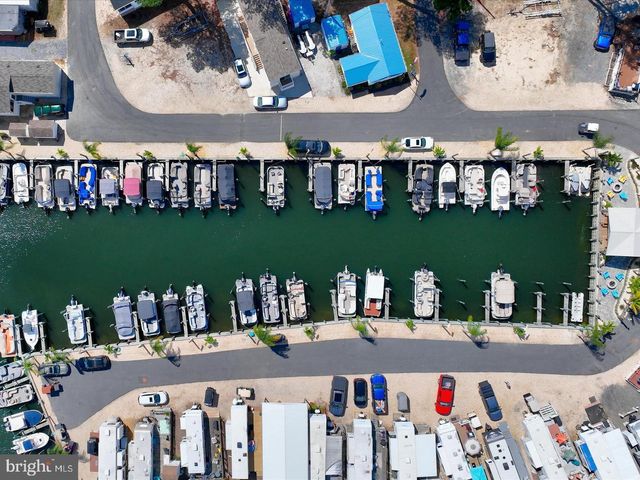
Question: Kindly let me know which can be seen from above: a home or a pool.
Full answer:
I can see a home in this picture.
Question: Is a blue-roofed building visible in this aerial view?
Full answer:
Yes, a blue-roofed building can be made out from above.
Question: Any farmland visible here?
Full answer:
No, no farmland is visible.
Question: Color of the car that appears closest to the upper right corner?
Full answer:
In this view, the car that appears closest to the upper right corner is blue.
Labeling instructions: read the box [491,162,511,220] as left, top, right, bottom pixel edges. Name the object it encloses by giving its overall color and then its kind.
white boat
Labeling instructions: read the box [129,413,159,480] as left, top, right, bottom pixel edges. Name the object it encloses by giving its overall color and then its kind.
white vehicle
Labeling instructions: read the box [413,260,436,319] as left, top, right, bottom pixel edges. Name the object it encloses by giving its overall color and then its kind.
white boat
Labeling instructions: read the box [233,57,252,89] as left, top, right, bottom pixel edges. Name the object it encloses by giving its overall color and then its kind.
white car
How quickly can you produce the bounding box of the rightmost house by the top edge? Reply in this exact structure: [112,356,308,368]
[339,3,407,90]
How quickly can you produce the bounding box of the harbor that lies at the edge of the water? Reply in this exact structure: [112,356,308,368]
[0,157,601,480]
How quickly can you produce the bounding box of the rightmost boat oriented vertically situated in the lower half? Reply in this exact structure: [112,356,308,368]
[489,262,515,324]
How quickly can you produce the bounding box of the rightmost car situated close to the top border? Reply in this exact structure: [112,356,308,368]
[592,15,617,51]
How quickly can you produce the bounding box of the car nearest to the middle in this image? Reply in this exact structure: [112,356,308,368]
[298,139,331,155]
